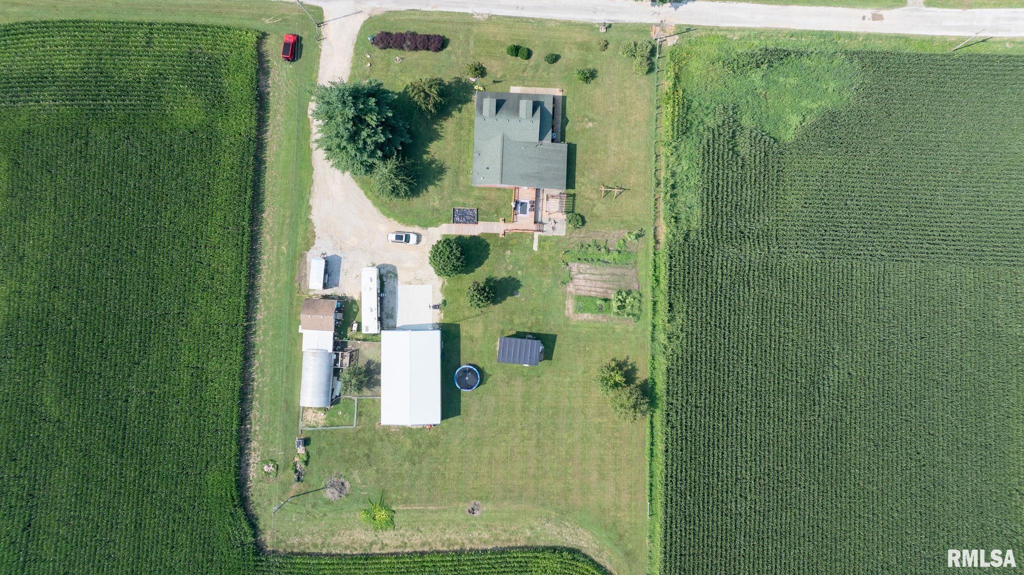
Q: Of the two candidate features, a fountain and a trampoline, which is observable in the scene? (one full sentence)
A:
There is a trampoline in the scene.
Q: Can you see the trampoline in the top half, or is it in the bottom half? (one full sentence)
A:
Seen from above, the trampoline lies in the bottom half of the view.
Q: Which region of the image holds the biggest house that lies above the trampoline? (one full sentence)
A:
You can find the biggest house that lies above the trampoline in the top area of the picture.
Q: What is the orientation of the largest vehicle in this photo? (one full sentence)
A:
The largest vehicle has been laid out vertically relative to the frame.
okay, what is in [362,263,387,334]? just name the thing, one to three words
vehicle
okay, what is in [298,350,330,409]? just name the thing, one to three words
greenhouse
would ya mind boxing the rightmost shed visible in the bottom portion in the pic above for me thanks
[498,337,541,366]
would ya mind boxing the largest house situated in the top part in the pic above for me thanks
[471,91,568,192]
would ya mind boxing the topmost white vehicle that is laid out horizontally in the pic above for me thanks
[387,232,418,246]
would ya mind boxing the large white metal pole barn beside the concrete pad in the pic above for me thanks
[380,329,445,427]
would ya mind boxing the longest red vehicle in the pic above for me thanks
[282,34,297,60]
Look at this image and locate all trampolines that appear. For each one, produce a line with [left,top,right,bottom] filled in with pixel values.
[455,364,481,391]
